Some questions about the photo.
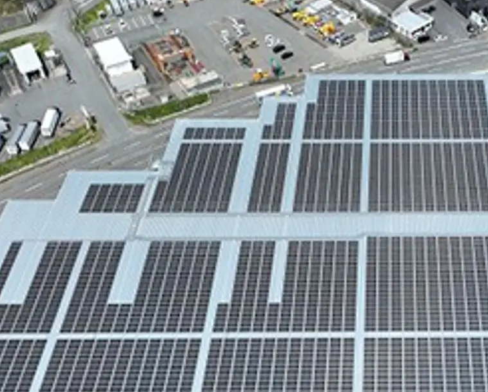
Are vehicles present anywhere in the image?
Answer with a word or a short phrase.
Yes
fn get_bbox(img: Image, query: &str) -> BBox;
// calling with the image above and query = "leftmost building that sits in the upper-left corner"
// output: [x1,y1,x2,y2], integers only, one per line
[11,43,46,84]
